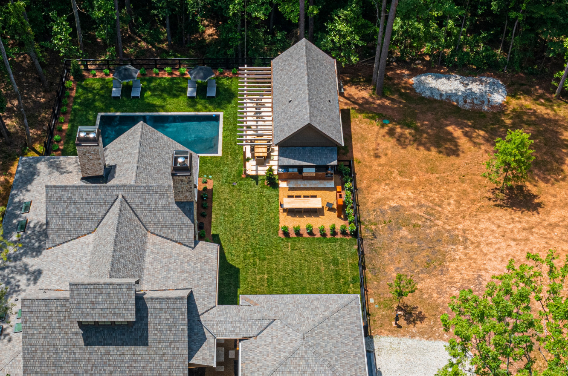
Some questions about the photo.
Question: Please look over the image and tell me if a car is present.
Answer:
No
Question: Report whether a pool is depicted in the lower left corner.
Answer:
No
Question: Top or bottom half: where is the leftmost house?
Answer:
bottom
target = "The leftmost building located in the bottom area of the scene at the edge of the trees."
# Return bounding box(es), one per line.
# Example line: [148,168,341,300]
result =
[0,119,221,376]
